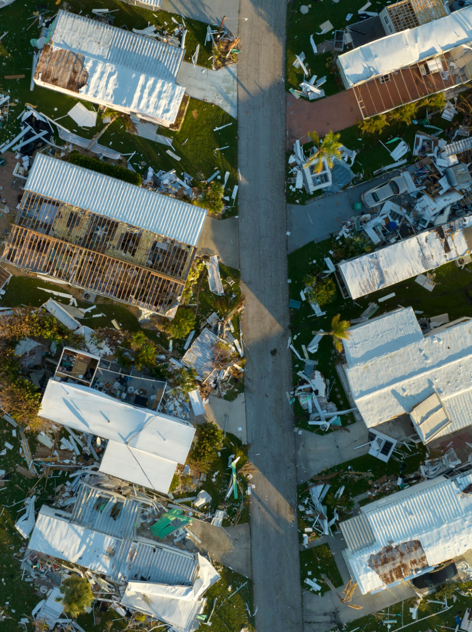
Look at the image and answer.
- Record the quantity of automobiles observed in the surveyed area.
two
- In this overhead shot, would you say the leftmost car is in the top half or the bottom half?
top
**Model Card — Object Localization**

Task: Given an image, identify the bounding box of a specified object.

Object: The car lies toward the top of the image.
[360,174,406,207]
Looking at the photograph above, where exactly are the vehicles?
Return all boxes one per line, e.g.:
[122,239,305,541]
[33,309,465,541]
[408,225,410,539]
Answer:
[411,563,464,595]
[360,174,406,207]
